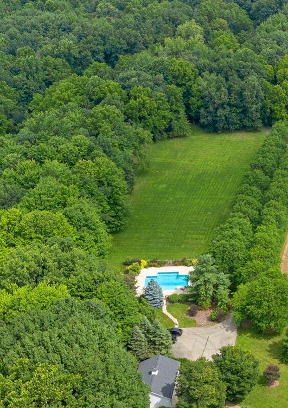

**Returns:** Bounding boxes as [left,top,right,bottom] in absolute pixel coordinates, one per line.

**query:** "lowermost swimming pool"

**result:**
[134,264,194,300]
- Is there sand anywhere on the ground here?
No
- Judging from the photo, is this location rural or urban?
rural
